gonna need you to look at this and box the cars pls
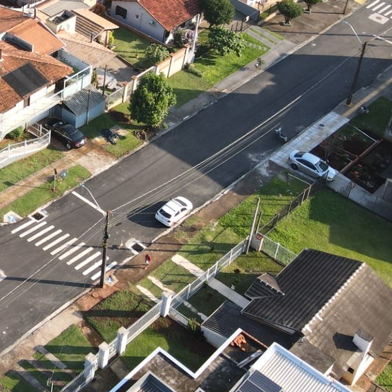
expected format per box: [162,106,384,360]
[152,197,195,228]
[288,149,337,180]
[47,117,89,144]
